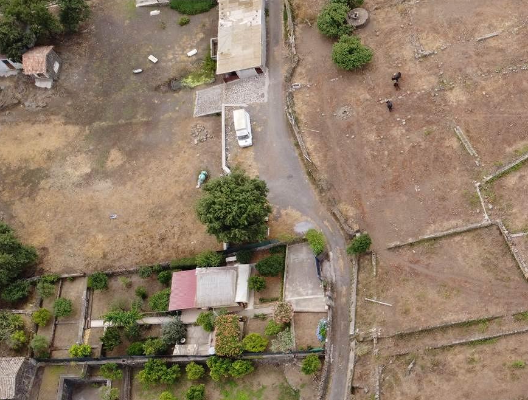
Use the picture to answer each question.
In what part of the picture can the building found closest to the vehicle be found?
top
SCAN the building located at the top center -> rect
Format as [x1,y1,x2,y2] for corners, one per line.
[217,0,267,84]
